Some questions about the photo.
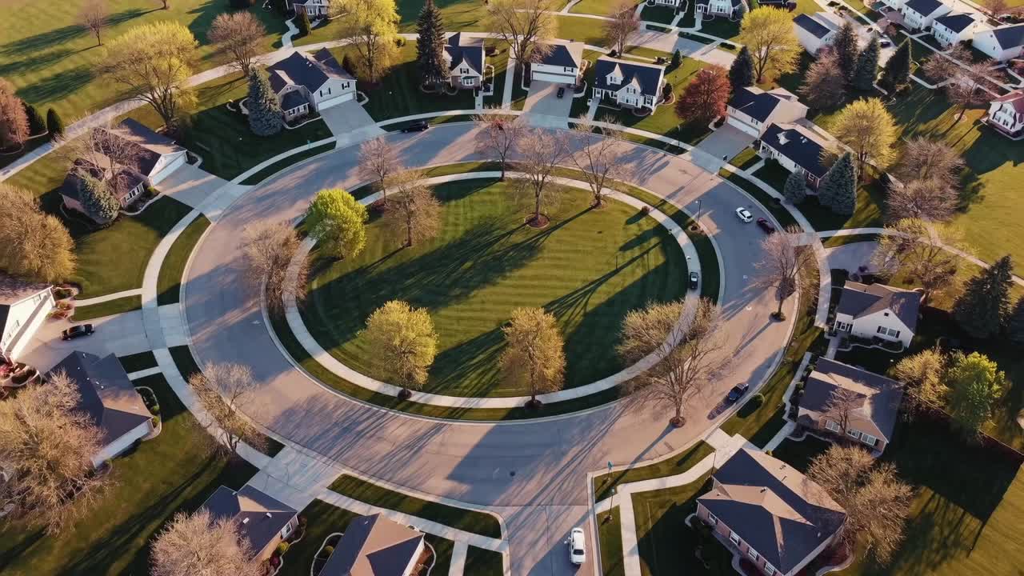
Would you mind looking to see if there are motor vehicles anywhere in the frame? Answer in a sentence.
Yes, this view includes a motor vehicle.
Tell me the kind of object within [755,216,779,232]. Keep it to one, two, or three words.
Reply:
car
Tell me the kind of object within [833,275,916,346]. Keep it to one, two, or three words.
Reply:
house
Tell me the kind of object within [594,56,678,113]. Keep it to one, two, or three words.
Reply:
house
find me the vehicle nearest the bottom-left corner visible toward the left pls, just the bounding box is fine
[61,322,94,338]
